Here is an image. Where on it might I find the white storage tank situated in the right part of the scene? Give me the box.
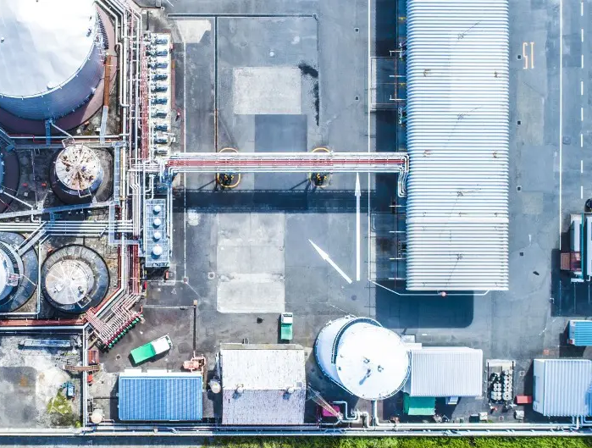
[310,313,413,402]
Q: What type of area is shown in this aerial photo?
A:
industrial area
